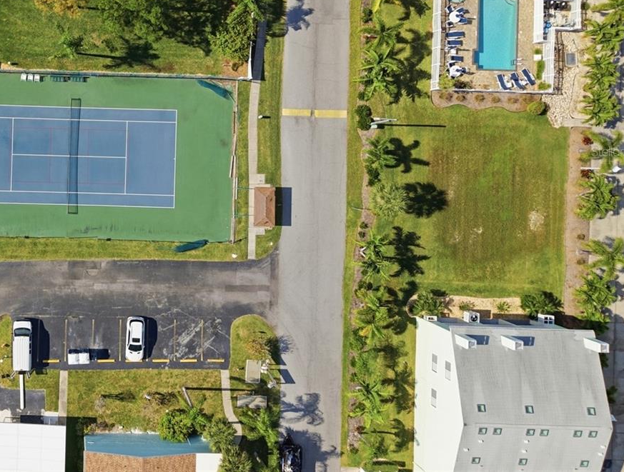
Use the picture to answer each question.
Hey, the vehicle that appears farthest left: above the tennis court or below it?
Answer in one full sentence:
The vehicle that appears farthest left appears below the tennis court in the picture.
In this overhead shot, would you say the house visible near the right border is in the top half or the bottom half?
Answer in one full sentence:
It is in the bottom half that the house visible near the right border appears.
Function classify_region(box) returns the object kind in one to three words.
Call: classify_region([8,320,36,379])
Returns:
vehicle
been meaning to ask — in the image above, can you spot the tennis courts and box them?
[0,73,239,243]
